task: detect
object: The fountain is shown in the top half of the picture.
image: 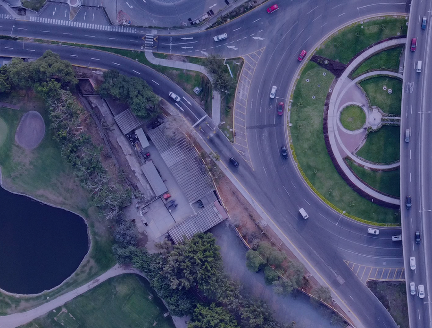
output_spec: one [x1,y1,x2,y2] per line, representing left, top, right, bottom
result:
[366,107,382,129]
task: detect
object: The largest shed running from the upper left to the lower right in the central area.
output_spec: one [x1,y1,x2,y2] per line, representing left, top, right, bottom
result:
[147,124,218,203]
